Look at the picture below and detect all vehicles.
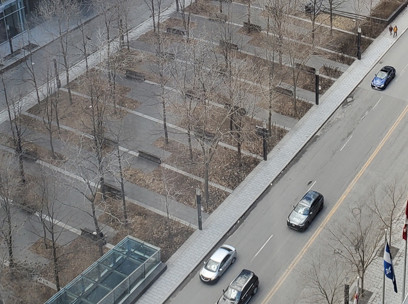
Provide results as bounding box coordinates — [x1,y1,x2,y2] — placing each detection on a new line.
[285,191,324,232]
[194,240,239,286]
[368,63,394,87]
[215,267,261,304]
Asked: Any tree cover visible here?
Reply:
Yes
